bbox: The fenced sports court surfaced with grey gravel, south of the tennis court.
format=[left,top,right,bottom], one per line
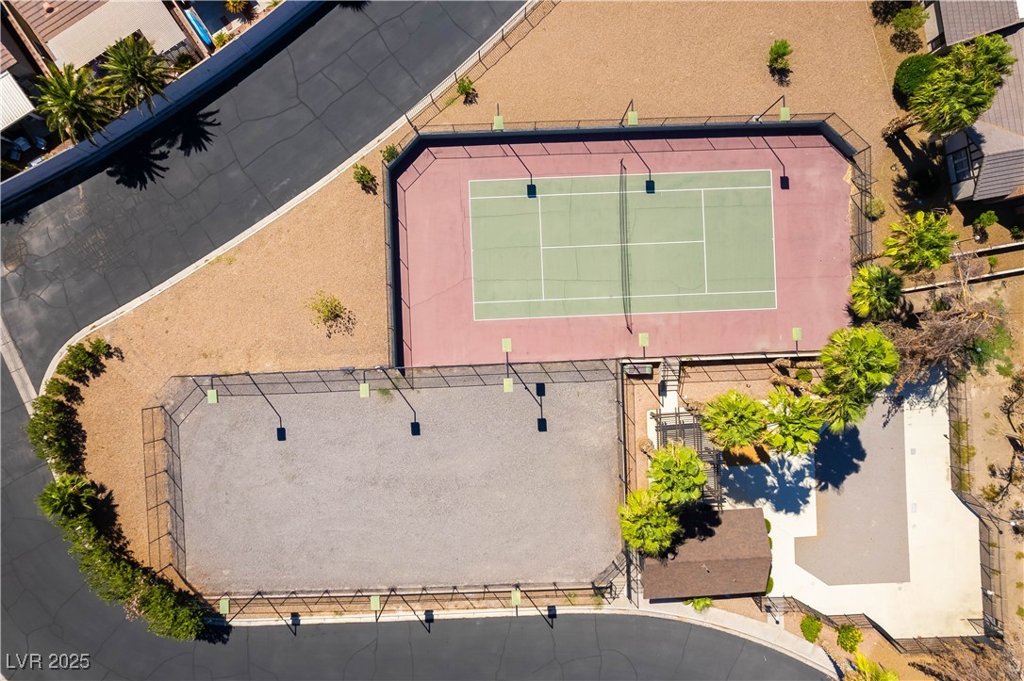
[163,363,620,595]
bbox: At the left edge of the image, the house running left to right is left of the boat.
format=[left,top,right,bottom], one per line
[11,0,199,83]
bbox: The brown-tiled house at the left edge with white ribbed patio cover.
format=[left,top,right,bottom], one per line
[0,39,51,144]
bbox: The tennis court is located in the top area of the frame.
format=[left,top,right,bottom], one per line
[392,126,853,369]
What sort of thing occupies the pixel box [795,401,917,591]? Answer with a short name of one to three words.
swimming pool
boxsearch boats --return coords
[187,8,212,45]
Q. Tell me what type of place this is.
sports ground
